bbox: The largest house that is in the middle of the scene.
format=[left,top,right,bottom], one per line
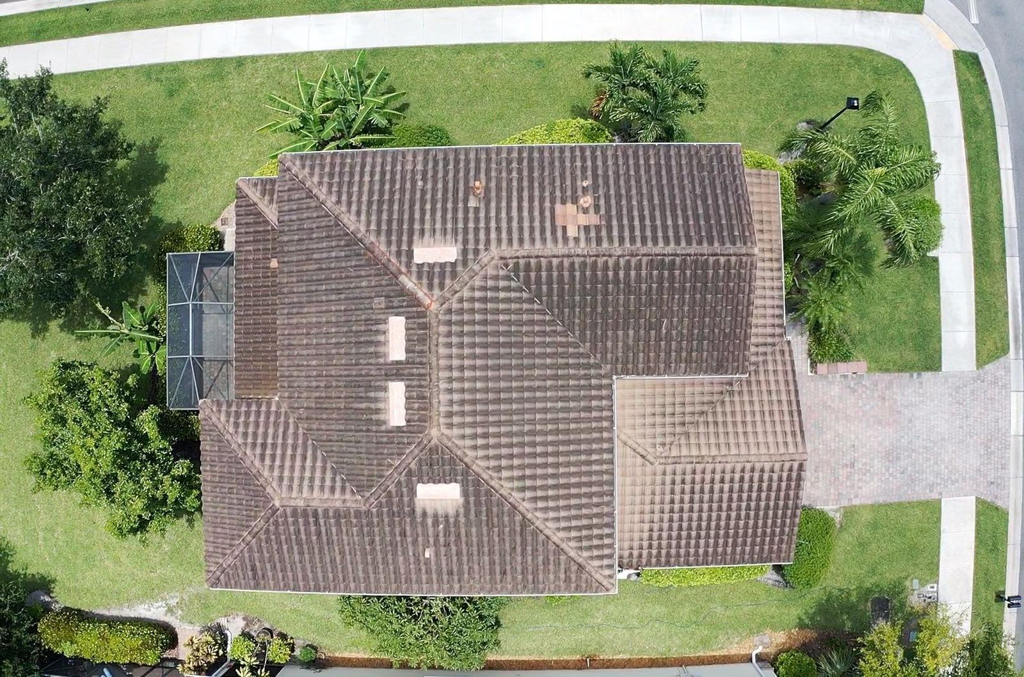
[198,140,810,598]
